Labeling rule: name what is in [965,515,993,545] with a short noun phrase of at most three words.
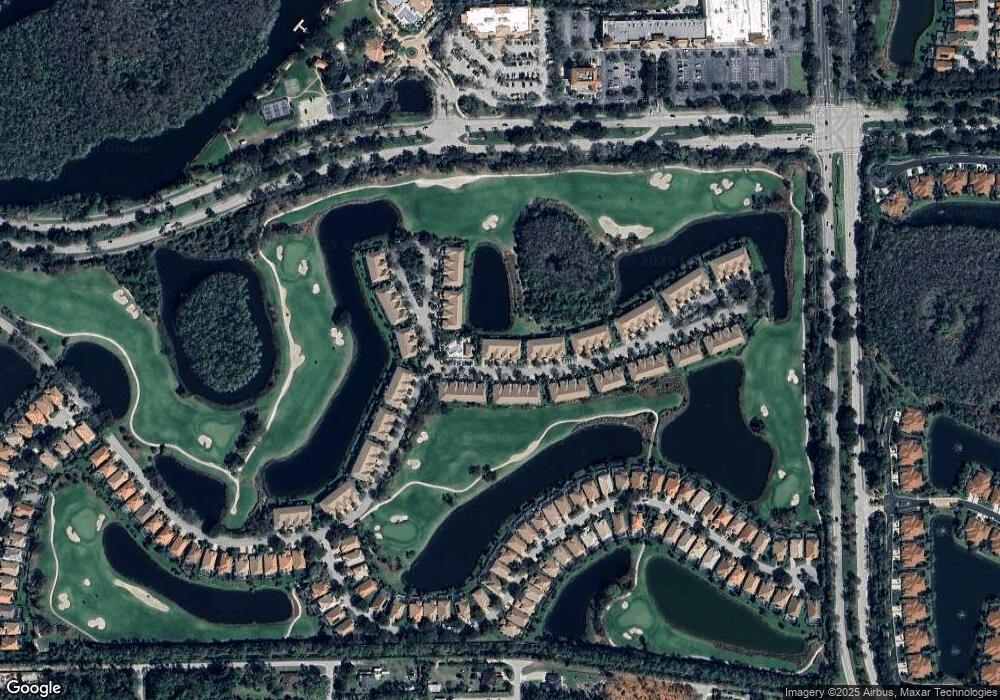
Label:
house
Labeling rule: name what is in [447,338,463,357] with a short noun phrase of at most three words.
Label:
swimming pool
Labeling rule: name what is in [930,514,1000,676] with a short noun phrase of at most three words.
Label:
pond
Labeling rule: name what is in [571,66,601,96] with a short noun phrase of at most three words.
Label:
building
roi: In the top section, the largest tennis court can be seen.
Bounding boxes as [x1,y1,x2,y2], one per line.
[262,98,291,120]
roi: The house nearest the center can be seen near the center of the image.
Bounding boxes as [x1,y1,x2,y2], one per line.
[482,340,521,365]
